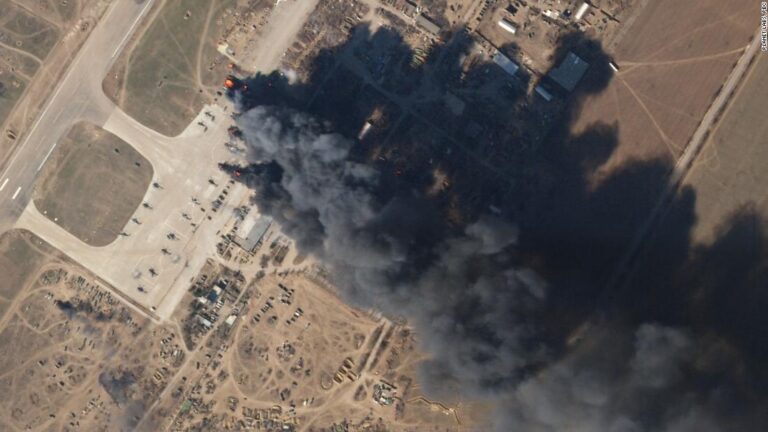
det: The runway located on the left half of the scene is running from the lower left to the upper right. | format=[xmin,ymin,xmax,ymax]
[0,0,156,236]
